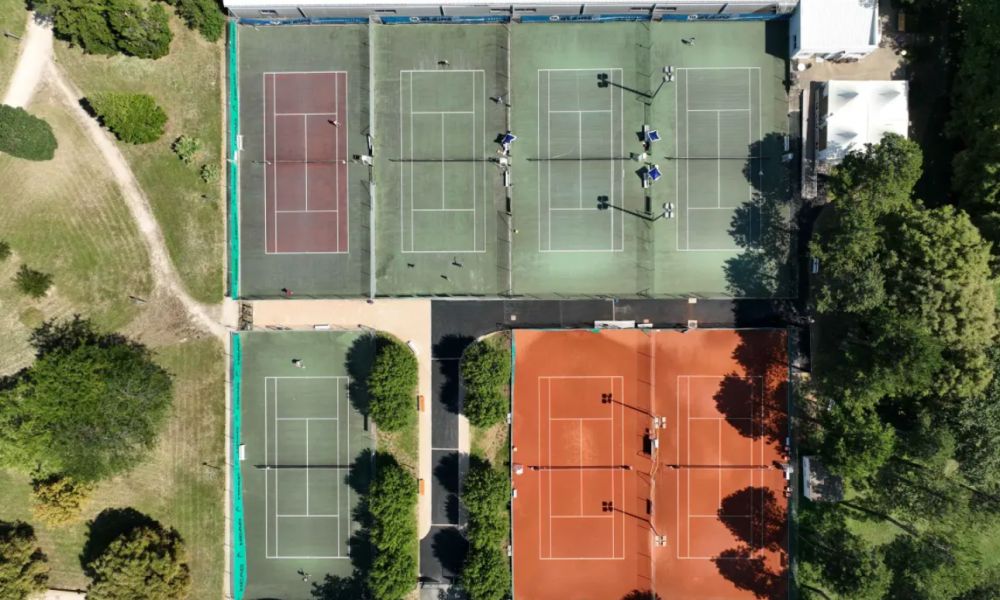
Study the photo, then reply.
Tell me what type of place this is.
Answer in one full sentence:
The area seen from above is a sports ground.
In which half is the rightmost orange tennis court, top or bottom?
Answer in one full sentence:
Seen from above, the rightmost orange tennis court lies in the bottom half of the view.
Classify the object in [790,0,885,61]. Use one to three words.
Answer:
building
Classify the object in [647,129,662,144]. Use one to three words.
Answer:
umbrella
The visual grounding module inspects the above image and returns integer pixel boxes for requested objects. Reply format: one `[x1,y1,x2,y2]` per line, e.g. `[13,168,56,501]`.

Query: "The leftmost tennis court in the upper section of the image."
[239,21,375,299]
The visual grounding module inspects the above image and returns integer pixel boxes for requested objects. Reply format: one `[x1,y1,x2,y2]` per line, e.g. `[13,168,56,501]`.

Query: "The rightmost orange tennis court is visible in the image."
[652,330,789,600]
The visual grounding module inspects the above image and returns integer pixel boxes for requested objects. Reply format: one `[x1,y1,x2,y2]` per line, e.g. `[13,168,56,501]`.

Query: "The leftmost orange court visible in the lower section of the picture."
[514,330,653,600]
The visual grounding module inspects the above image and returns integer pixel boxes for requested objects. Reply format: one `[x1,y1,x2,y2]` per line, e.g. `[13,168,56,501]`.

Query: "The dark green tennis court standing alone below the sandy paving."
[242,331,377,600]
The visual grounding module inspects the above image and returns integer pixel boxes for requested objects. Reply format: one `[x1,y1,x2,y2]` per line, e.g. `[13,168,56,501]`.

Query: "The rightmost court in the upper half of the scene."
[651,21,790,299]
